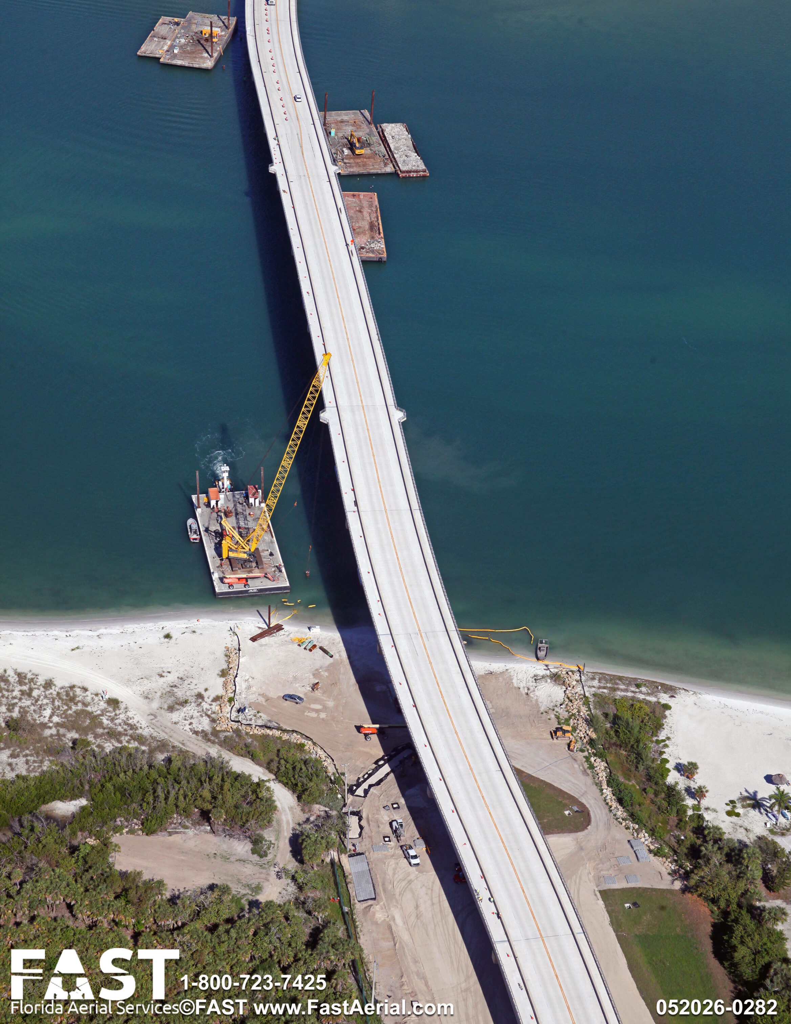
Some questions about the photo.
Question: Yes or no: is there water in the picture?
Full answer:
Yes, water shows up in the scene.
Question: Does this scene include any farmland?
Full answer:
No, no farmland is visible.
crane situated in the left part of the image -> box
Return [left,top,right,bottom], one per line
[213,353,336,575]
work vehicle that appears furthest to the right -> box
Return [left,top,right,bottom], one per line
[554,726,572,741]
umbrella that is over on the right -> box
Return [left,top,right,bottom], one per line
[773,772,790,785]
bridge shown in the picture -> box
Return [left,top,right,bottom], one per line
[245,0,628,1024]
